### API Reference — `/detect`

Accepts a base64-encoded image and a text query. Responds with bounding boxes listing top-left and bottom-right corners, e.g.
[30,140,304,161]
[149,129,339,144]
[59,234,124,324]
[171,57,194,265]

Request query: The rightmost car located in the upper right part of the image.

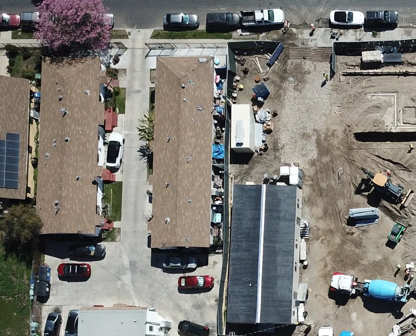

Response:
[366,10,399,28]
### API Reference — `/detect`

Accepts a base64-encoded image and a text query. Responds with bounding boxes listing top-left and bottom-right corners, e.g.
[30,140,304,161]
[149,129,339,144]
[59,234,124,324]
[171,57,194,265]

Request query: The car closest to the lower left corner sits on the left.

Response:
[44,312,64,336]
